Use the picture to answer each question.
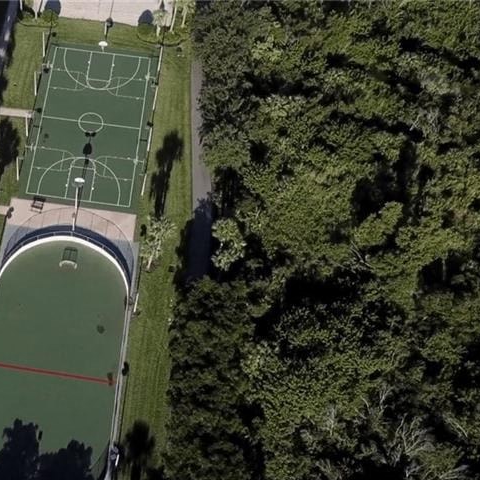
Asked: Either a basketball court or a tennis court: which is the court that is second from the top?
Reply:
basketball court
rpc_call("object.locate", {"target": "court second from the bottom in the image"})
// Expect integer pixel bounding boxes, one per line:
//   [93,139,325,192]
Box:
[18,42,160,212]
